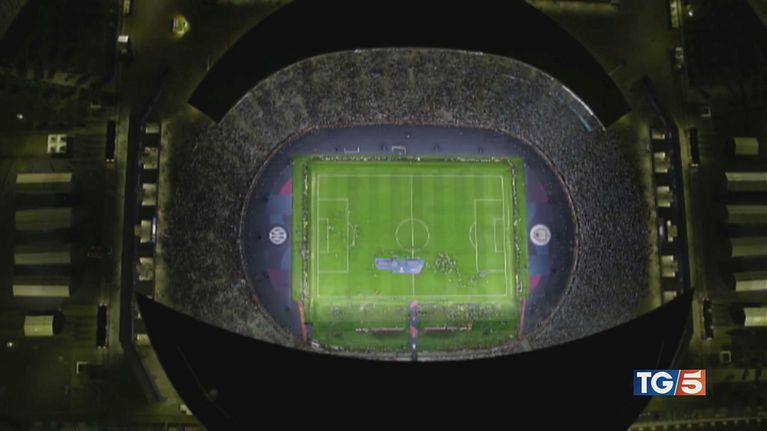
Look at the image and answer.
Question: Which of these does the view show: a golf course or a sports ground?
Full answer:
It's a sports ground.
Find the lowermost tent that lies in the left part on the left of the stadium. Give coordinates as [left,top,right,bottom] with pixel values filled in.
[21,315,60,336]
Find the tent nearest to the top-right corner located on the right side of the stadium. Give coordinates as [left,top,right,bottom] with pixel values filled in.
[729,137,760,157]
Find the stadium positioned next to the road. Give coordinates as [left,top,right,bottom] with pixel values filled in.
[135,0,693,431]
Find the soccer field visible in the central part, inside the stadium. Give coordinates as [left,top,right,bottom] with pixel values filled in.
[293,157,527,343]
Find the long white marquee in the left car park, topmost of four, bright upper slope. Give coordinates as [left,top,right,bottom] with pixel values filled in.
[13,173,79,193]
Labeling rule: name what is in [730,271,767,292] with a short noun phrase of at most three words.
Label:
tent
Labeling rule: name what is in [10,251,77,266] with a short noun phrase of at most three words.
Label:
tent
